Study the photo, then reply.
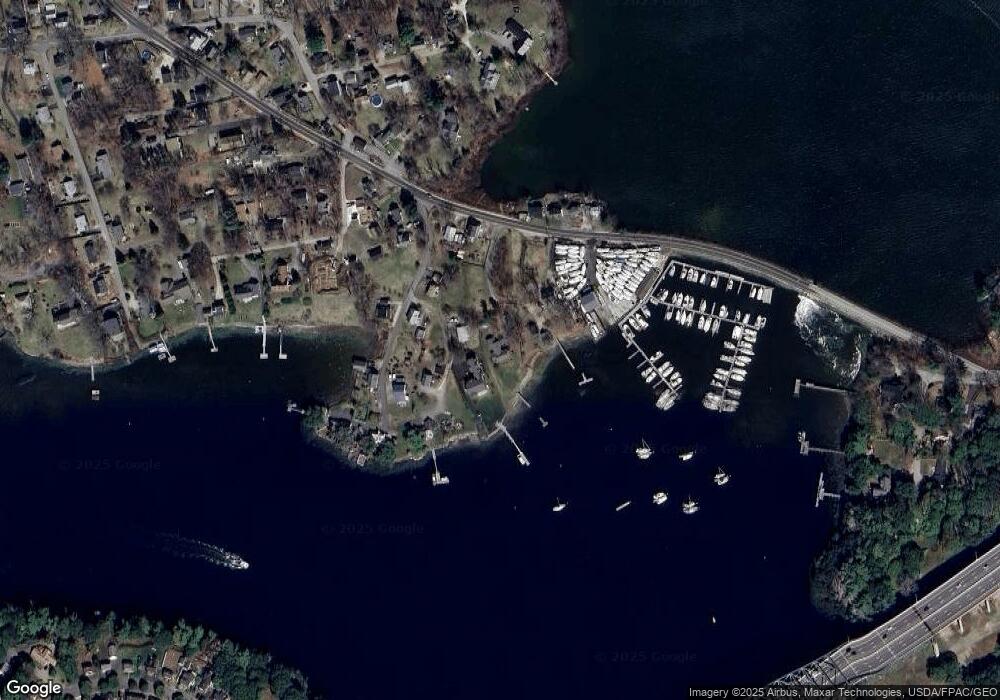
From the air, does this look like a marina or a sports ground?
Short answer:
marina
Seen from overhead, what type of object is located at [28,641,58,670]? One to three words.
house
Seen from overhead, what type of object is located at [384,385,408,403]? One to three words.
house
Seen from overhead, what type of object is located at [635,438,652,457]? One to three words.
boat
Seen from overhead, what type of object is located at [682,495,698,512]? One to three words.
boat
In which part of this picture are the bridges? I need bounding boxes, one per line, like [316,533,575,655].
[732,540,1000,700]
